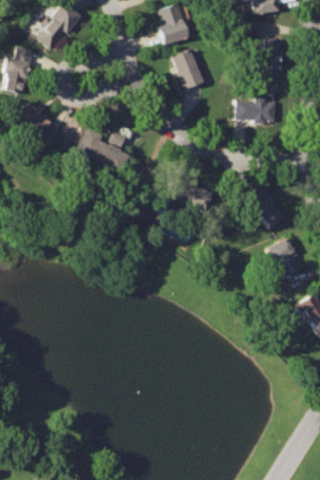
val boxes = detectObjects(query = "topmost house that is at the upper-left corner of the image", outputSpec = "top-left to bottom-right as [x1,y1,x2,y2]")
[30,6,76,52]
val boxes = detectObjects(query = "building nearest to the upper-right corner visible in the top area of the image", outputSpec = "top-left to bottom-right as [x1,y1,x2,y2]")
[249,0,278,18]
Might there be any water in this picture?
Yes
